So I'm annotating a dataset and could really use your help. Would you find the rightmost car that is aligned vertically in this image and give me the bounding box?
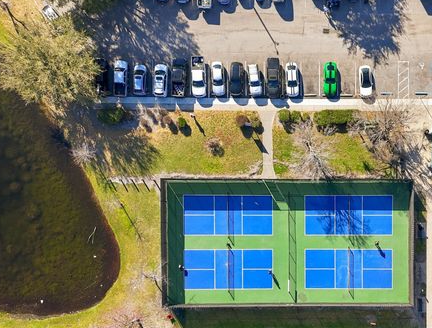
[359,66,374,98]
